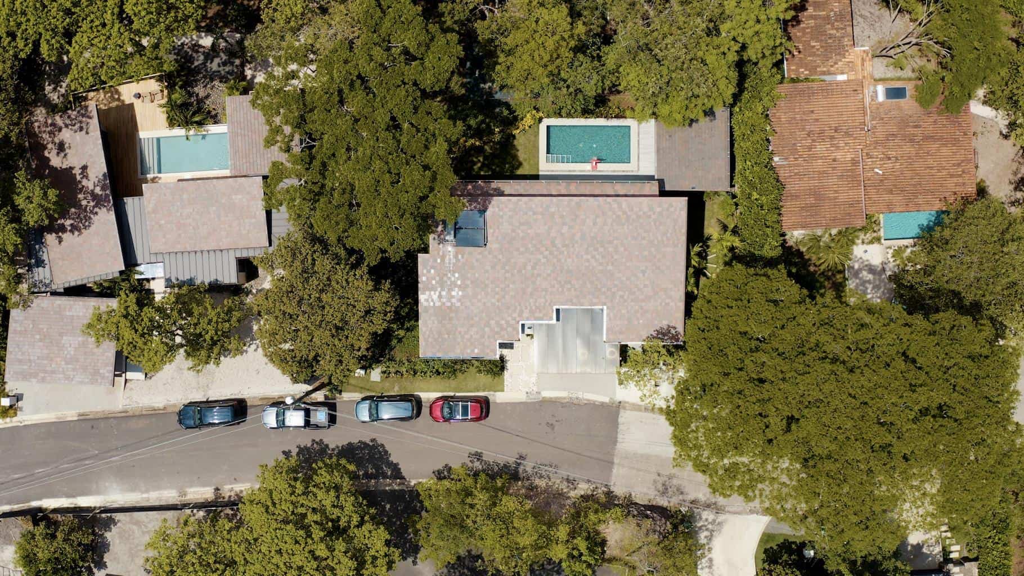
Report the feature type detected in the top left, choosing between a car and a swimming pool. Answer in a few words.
swimming pool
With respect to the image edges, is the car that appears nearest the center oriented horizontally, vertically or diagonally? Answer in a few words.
horizontally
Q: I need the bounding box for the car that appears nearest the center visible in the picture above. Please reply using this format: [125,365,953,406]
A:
[429,398,485,427]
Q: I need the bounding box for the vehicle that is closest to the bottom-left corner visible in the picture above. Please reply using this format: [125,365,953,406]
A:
[175,397,239,427]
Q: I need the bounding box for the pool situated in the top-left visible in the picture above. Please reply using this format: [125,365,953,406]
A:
[137,125,230,183]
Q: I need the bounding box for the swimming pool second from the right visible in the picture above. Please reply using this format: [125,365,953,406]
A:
[539,118,638,172]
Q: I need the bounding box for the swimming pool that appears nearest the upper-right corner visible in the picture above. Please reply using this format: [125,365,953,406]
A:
[876,204,956,245]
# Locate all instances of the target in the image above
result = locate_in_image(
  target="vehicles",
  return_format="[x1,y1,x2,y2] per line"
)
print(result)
[260,400,331,429]
[175,397,239,427]
[429,398,485,427]
[353,398,417,427]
